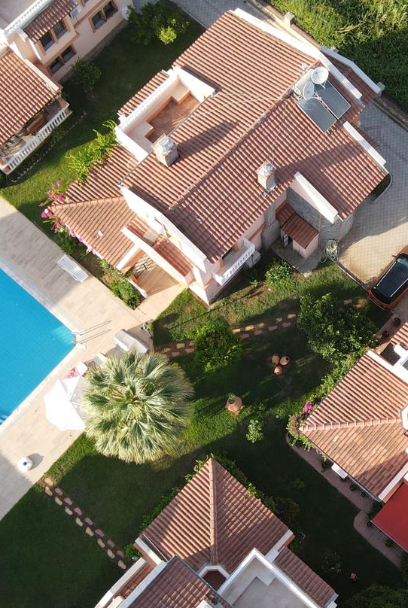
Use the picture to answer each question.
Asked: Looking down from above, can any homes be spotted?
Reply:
Yes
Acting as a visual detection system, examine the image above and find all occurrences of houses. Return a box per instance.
[113,457,350,608]
[45,6,393,314]
[0,0,148,186]
[297,320,408,508]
